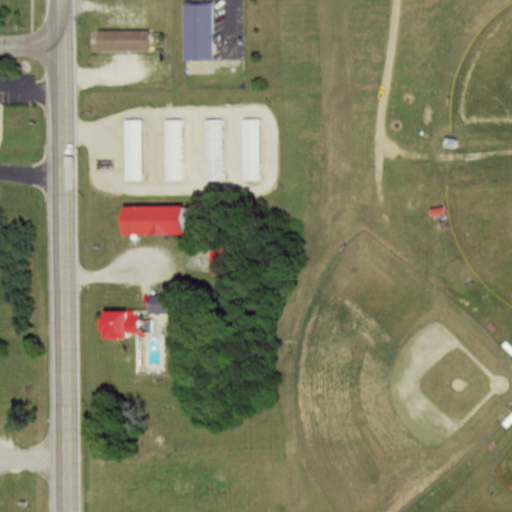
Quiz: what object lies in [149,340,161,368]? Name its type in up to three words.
swimming pool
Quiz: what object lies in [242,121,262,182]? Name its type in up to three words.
building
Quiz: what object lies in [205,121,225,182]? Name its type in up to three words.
building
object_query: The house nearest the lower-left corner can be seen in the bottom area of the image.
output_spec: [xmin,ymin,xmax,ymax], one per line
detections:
[98,310,146,340]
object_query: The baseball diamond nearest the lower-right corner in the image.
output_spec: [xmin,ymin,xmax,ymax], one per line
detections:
[296,230,512,512]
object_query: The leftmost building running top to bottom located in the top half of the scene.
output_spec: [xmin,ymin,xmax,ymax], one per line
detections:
[124,121,144,182]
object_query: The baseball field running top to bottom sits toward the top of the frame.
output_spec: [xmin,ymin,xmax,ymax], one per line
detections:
[447,2,512,305]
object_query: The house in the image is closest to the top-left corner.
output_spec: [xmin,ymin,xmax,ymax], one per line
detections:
[90,30,154,53]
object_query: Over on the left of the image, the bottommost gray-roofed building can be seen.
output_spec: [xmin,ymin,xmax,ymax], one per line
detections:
[148,294,166,314]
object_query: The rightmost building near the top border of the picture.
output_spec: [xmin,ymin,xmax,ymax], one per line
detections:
[183,2,216,61]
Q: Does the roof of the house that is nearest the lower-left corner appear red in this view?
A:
Yes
